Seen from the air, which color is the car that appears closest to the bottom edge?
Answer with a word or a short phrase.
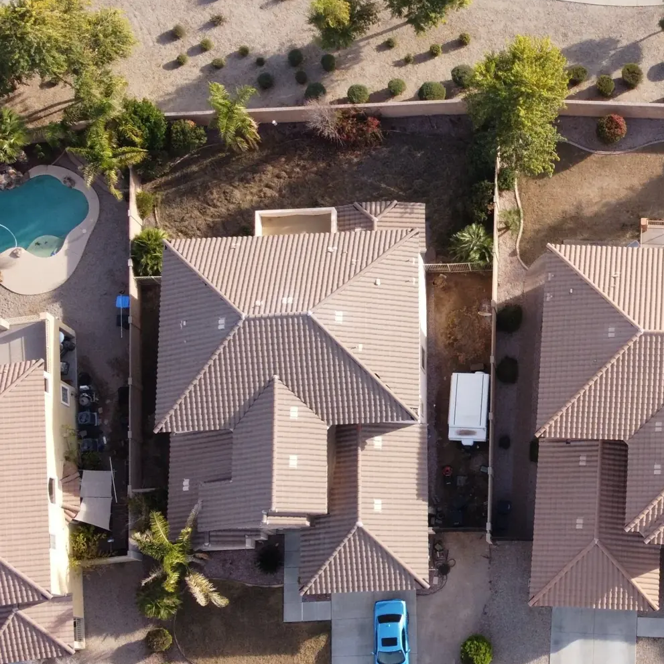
blue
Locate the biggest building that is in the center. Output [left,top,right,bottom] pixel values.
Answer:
[152,197,430,595]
